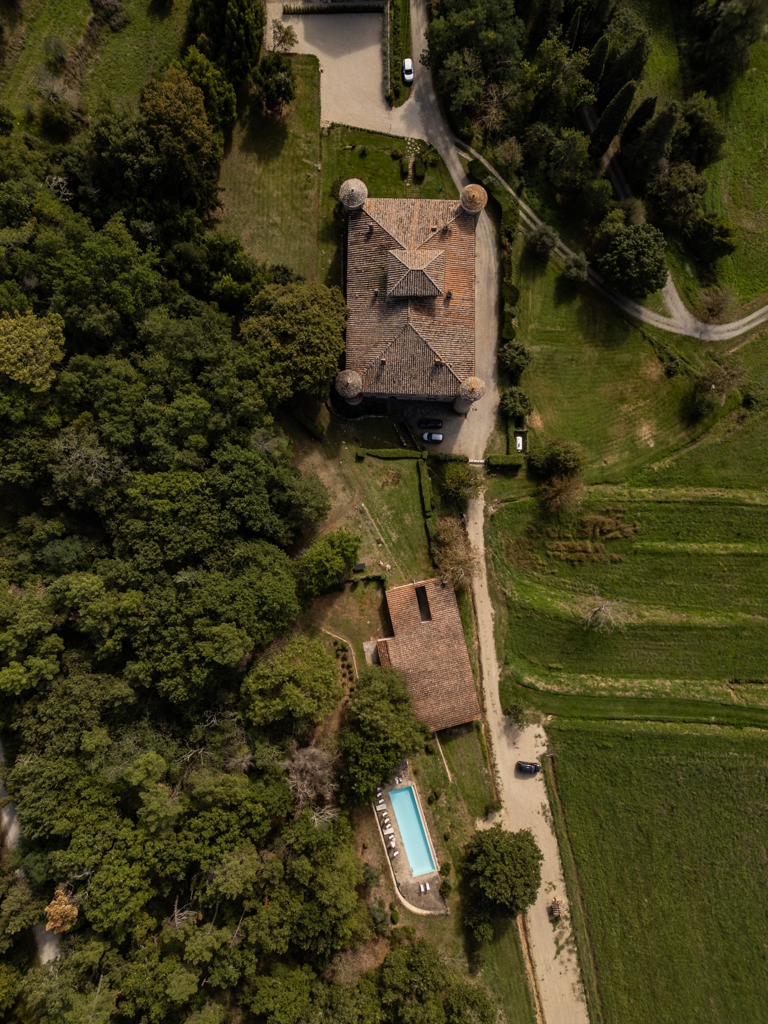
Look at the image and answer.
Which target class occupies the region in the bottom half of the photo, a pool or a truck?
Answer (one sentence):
You can see a pool in the bottom half of the photo.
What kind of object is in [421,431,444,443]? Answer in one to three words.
vehicle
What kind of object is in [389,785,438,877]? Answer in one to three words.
swimming pool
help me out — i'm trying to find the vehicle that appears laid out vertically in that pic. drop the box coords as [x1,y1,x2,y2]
[402,57,414,84]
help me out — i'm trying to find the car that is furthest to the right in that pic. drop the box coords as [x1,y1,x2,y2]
[514,759,538,773]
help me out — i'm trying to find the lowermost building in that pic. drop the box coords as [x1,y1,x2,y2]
[376,577,482,731]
